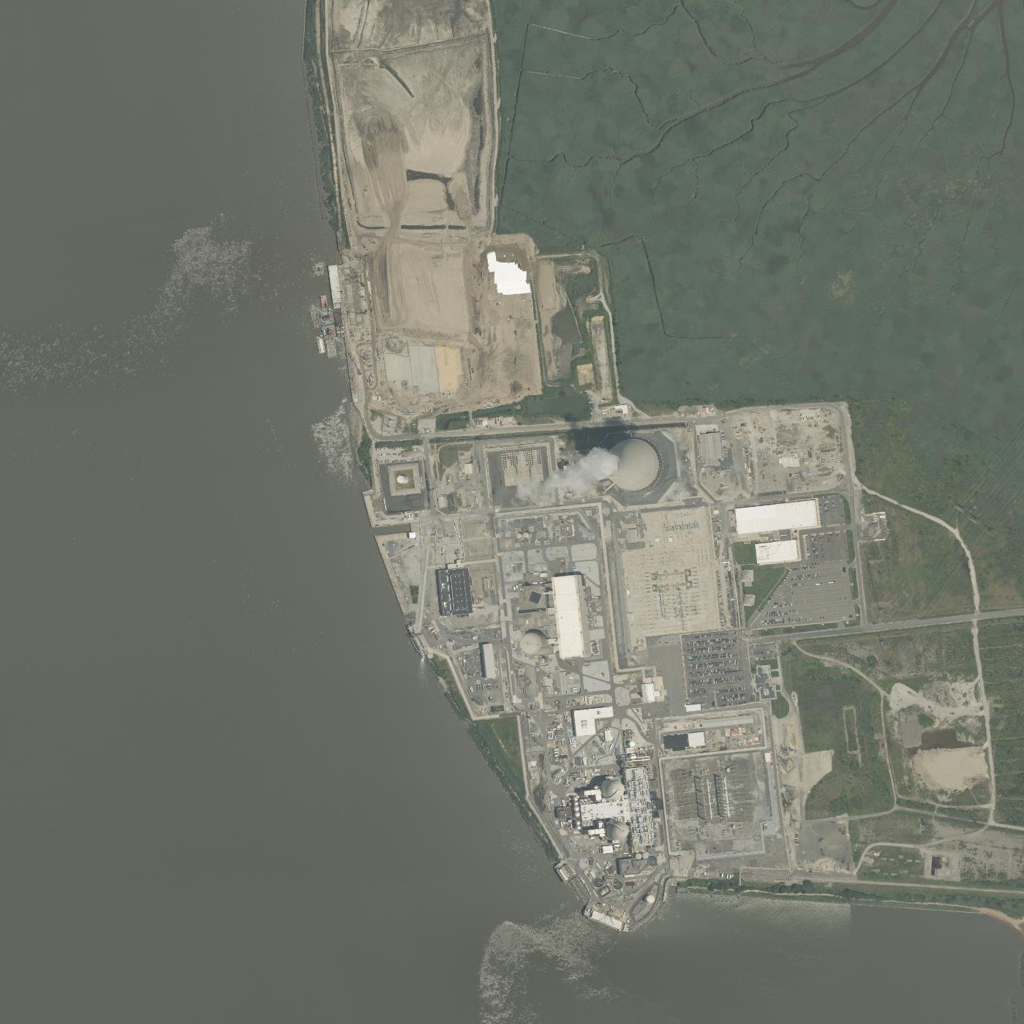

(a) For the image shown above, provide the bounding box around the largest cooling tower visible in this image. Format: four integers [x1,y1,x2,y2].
[593,436,664,492]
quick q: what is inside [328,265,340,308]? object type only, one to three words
ship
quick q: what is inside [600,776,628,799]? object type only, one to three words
building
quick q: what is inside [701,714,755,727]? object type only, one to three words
shed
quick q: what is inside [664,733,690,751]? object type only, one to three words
building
